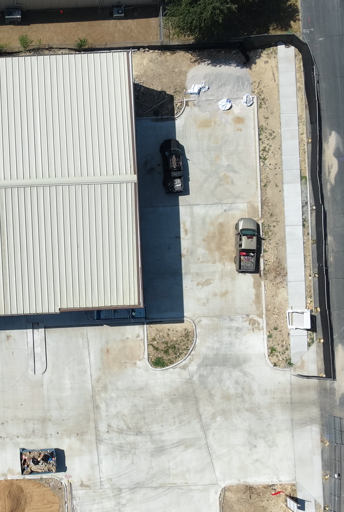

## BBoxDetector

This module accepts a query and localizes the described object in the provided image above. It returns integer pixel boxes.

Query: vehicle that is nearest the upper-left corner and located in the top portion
[159,139,184,196]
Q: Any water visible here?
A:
No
